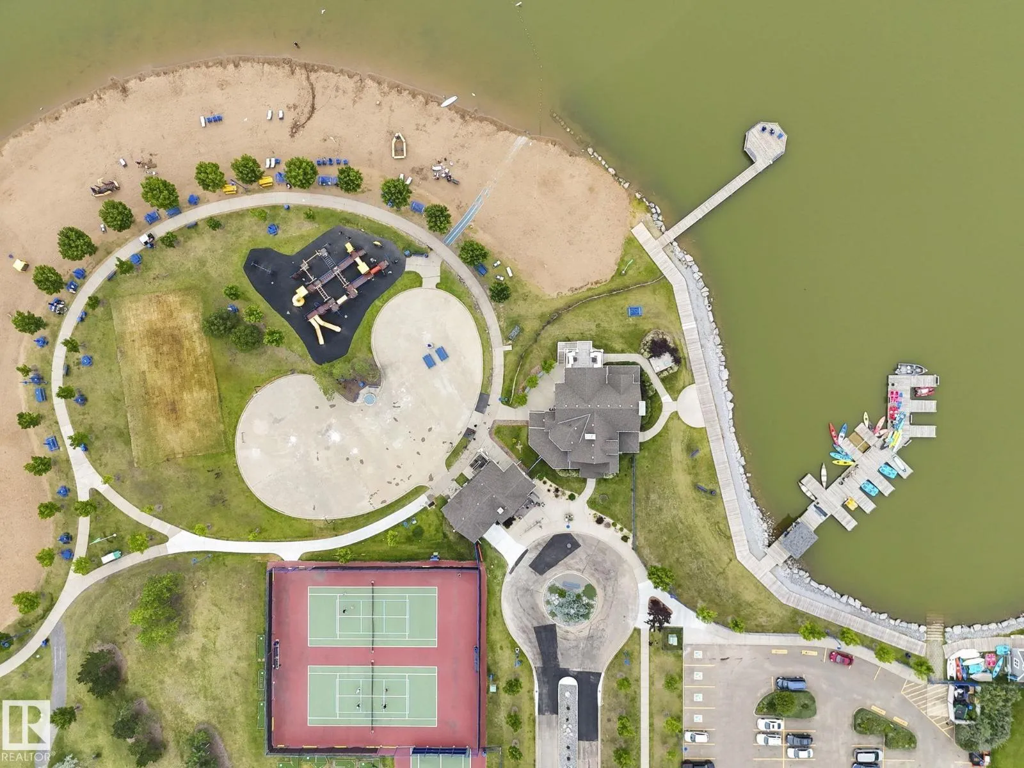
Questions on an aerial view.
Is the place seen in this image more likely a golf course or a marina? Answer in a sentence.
This image shows a marina.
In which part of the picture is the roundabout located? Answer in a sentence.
The roundabout appears toward the bottom of the photo.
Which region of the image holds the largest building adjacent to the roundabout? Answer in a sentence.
The largest building adjacent to the roundabout appears toward the center of the photo.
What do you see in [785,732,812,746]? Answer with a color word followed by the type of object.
gray car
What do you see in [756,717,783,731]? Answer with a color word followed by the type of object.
white car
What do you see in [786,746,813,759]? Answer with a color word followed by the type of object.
white vehicle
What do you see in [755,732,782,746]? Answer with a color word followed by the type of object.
white car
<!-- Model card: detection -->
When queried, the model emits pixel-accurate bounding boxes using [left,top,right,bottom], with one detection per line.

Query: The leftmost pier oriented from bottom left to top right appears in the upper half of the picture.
[657,121,788,248]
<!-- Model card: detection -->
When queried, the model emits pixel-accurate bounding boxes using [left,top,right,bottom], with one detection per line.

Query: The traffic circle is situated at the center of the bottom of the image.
[502,533,637,768]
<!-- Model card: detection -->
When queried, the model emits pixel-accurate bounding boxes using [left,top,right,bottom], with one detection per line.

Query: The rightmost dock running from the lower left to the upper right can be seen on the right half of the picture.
[761,376,939,570]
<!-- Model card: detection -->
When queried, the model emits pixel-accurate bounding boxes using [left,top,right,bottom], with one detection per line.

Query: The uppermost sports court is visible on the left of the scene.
[235,286,483,520]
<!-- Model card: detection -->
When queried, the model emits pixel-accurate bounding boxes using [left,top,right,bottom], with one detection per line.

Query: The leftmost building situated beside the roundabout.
[440,461,536,543]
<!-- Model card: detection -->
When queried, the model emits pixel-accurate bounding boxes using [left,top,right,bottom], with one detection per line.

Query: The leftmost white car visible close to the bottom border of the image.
[684,729,708,743]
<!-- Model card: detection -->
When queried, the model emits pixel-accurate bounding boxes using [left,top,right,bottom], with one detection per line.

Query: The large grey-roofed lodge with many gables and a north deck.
[528,365,646,480]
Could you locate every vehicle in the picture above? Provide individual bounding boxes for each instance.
[853,747,883,763]
[684,729,708,743]
[786,746,813,759]
[683,760,714,768]
[756,717,783,731]
[827,650,855,666]
[755,732,782,746]
[851,762,880,768]
[785,732,812,746]
[139,232,158,246]
[776,675,807,690]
